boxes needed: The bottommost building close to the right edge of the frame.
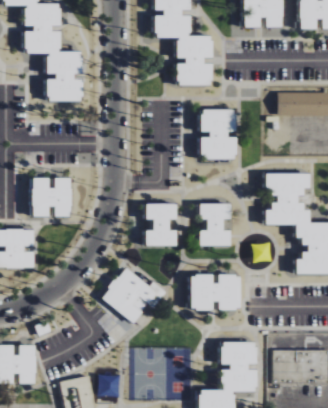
[270,350,328,383]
